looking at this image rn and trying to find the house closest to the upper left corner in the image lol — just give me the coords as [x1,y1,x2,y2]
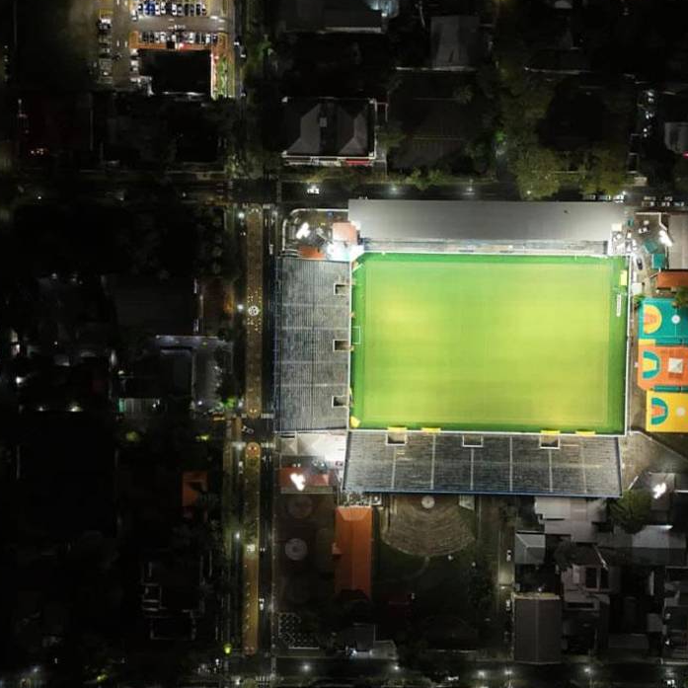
[19,94,94,157]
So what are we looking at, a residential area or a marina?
residential area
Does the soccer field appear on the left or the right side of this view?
right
